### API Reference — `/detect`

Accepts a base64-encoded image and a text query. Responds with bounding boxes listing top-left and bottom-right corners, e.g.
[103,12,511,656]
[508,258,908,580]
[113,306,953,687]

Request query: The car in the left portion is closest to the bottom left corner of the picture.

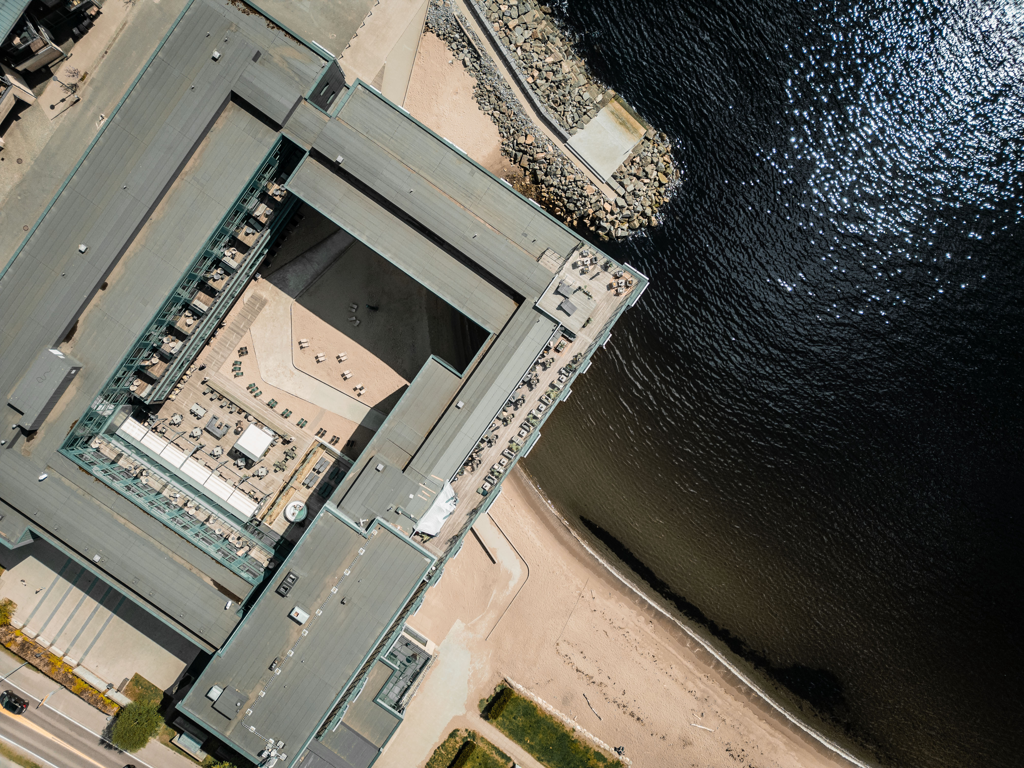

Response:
[0,688,31,715]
